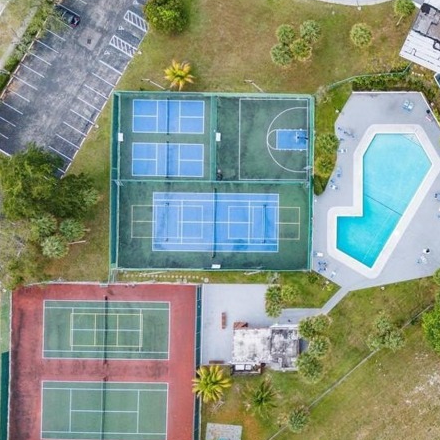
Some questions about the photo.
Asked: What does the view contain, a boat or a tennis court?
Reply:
tennis court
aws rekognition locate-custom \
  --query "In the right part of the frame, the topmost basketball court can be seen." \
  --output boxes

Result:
[268,99,309,172]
